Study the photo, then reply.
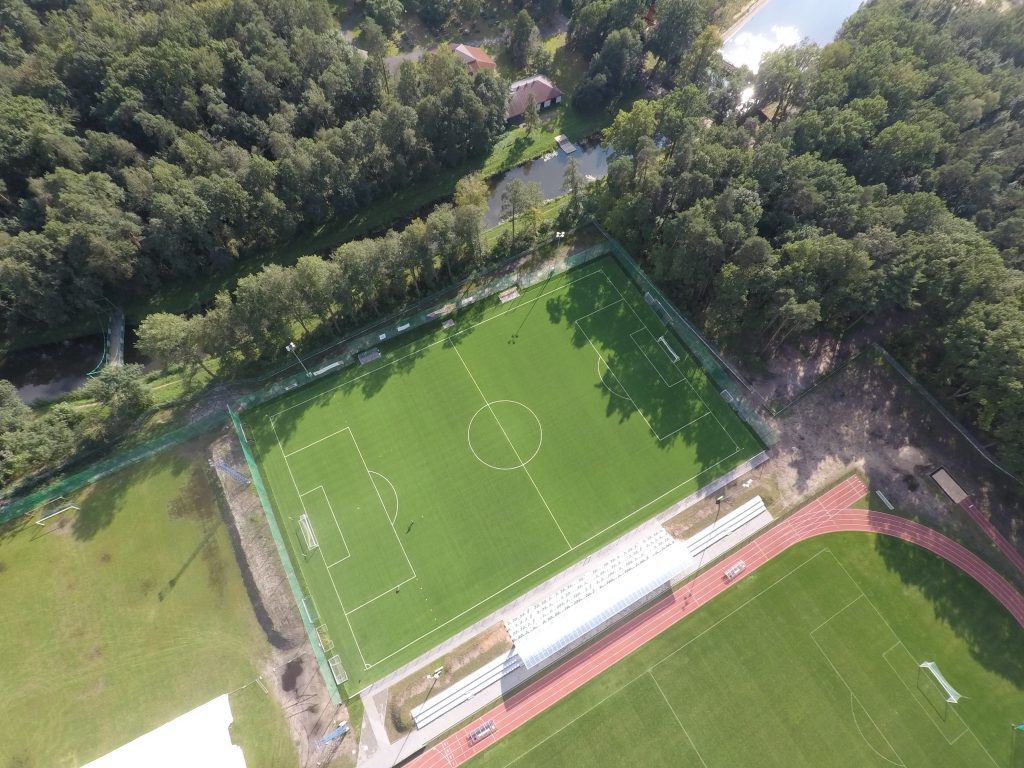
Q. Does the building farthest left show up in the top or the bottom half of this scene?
bottom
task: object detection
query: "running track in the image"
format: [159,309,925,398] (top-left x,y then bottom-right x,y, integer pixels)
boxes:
[406,475,869,768]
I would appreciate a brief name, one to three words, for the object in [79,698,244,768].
building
